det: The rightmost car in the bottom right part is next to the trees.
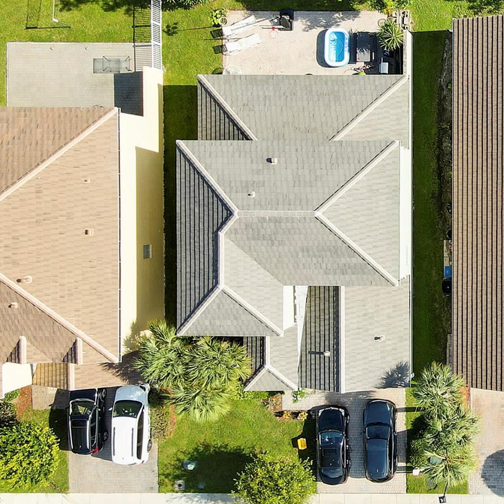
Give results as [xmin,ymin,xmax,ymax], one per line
[360,397,400,481]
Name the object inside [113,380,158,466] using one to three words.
car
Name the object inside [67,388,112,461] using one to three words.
car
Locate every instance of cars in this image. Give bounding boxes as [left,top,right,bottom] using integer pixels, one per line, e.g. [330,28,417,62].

[360,397,400,481]
[67,388,112,461]
[316,403,355,487]
[113,380,158,466]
